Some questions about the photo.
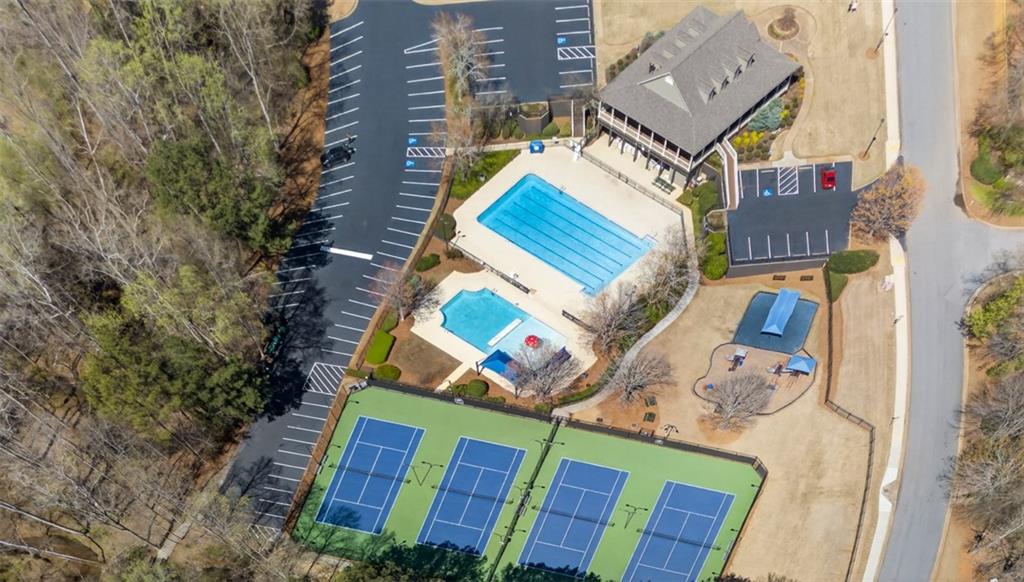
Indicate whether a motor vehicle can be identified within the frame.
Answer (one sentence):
Yes, there is a motor vehicle in the image.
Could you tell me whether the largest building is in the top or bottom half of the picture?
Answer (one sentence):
You can find the largest building in the top half.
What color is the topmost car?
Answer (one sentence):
In this view, the topmost car is black.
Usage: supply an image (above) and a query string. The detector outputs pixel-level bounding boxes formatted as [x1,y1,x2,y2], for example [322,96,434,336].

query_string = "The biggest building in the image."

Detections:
[600,5,802,172]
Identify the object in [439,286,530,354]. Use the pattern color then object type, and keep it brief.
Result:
blue swimming pool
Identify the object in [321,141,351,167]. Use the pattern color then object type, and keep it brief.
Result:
black car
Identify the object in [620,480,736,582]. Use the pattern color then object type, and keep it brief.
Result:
blue tennis court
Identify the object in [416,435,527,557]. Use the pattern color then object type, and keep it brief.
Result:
blue tennis court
